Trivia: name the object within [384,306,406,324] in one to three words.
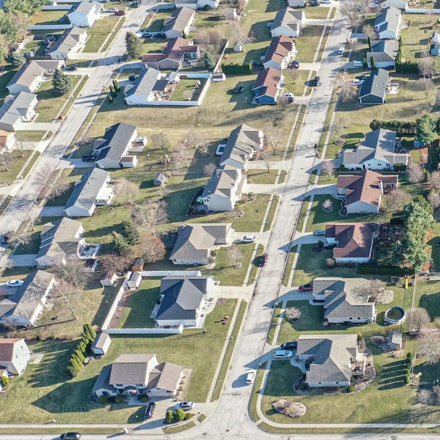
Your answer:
swimming pool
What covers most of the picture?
grass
